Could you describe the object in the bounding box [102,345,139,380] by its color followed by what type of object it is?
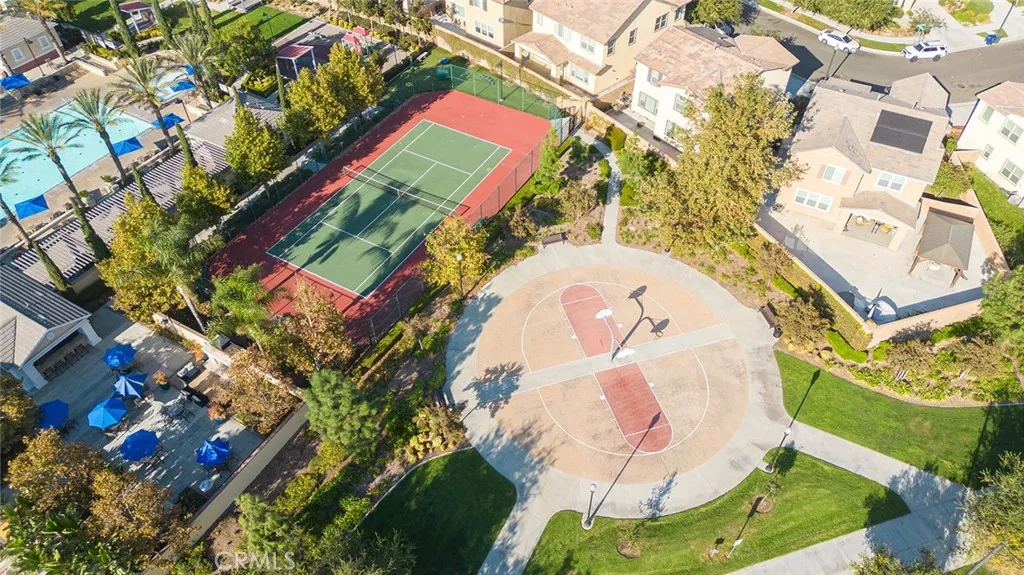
blue umbrella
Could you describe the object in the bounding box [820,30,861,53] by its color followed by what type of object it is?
white car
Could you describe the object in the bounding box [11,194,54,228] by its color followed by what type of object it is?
blue umbrella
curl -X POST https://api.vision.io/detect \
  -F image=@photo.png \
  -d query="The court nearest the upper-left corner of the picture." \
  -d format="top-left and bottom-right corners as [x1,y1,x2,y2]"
[211,88,557,352]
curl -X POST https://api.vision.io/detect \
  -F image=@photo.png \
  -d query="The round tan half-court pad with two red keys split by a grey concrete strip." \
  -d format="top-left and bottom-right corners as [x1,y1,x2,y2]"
[481,267,749,479]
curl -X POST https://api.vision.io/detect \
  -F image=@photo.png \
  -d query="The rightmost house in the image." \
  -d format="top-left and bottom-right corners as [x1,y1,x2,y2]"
[958,74,1024,193]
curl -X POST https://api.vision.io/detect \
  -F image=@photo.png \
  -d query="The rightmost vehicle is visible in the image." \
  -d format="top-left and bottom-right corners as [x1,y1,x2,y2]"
[905,39,951,62]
